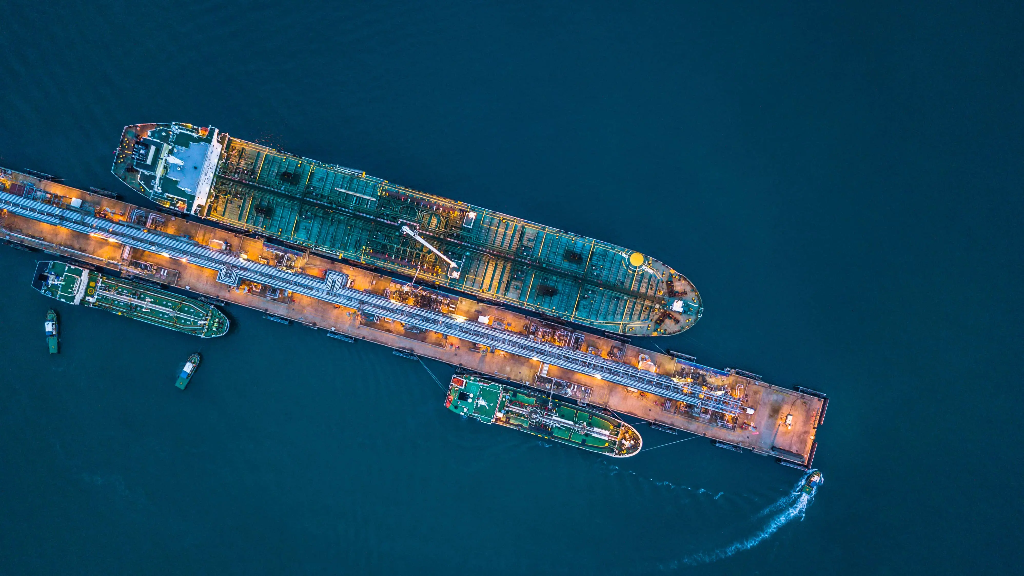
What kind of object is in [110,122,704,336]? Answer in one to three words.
ship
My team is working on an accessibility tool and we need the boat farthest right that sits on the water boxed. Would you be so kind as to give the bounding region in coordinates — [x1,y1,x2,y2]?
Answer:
[802,469,822,495]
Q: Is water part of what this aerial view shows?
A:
Yes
